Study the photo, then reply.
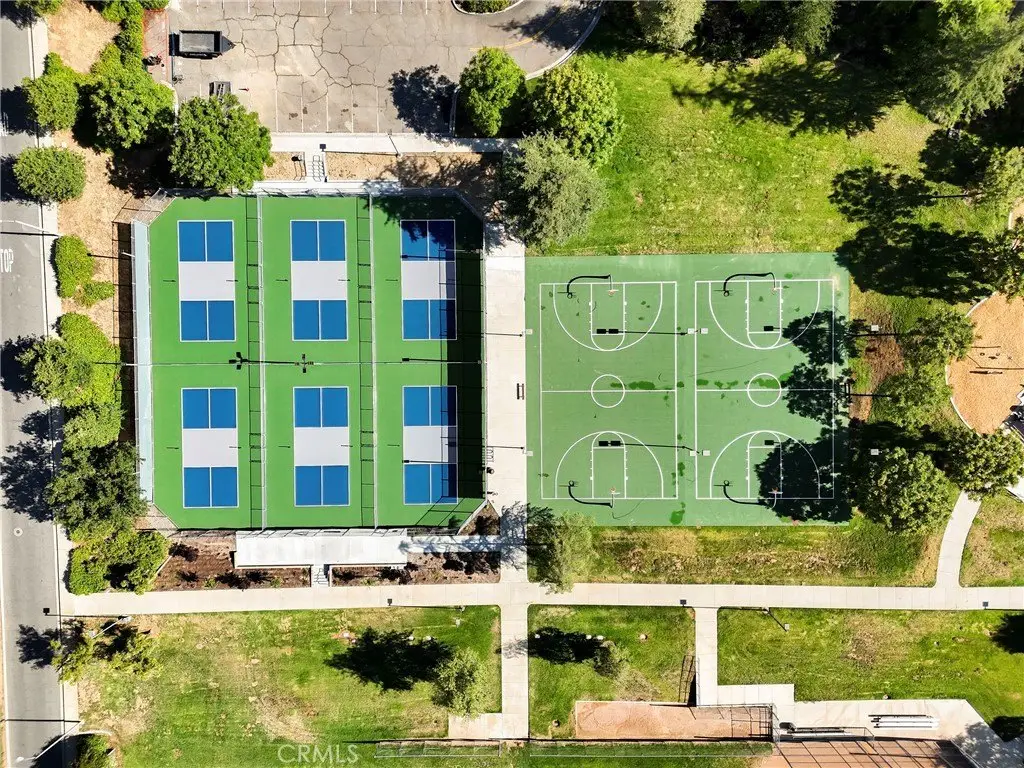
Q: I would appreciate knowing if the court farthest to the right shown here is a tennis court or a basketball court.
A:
basketball court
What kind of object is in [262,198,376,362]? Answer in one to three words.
sports court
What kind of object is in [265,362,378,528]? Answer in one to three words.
sports court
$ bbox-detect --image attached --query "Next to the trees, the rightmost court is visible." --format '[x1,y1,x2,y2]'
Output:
[686,253,851,525]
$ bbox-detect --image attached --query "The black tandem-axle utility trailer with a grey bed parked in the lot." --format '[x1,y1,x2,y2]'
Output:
[175,30,235,60]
